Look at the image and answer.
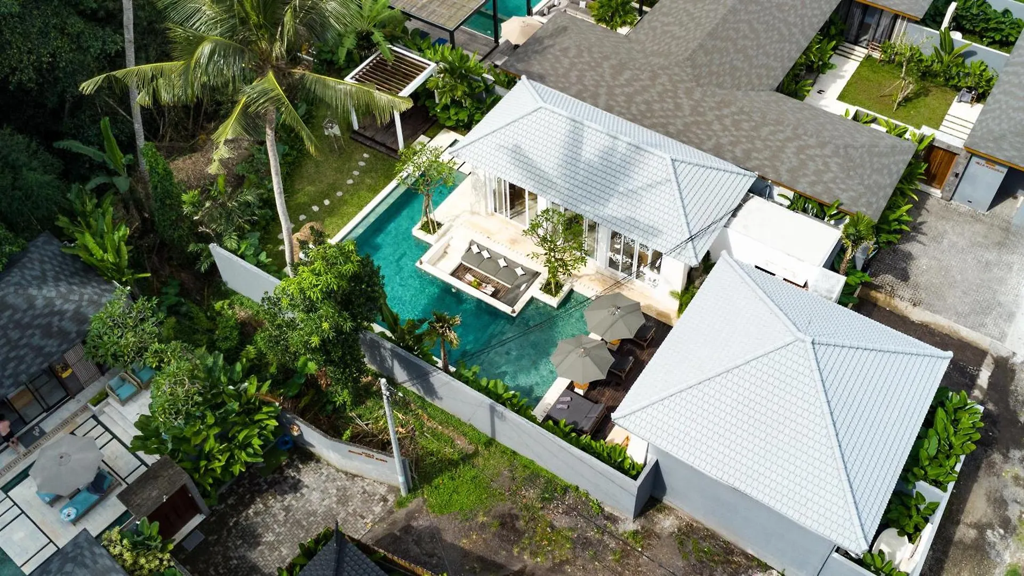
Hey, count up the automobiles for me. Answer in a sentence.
The count of automobiles is 0.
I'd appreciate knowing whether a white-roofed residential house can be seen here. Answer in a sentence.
Yes, there's a white-roofed residential house here.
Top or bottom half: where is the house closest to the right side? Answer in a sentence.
It is in the top half that the house closest to the right side appears.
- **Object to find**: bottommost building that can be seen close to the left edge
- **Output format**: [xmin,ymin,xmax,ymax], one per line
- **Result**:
[28,526,130,576]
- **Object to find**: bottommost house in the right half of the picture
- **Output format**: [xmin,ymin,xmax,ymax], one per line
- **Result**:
[608,249,960,576]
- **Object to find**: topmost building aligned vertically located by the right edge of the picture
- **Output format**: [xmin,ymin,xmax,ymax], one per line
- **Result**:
[963,30,1024,177]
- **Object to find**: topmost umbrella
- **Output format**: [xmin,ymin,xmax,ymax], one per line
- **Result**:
[501,19,540,47]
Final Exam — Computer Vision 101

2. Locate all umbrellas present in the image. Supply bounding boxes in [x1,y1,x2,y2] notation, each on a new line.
[501,19,540,47]
[549,331,614,387]
[26,431,107,498]
[581,290,647,343]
